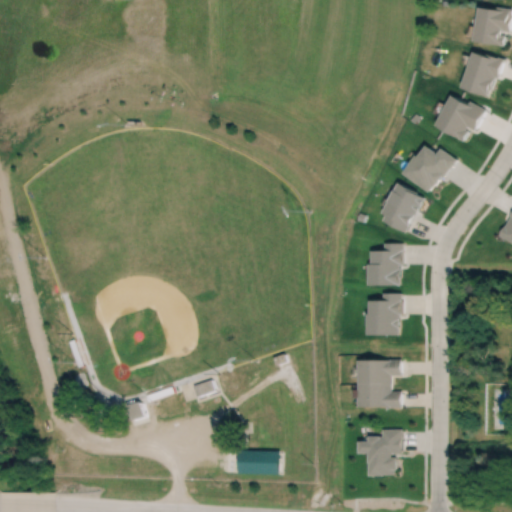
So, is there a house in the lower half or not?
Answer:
Yes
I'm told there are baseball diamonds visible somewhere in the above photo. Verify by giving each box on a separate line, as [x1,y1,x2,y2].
[26,128,312,404]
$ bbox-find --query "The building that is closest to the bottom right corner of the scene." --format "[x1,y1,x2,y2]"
[357,428,406,476]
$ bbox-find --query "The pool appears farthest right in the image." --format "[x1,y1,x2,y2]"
[496,390,510,430]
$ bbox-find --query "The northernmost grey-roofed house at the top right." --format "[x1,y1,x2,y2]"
[472,6,512,48]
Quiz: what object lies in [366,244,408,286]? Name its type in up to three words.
house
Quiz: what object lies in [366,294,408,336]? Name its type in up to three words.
house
